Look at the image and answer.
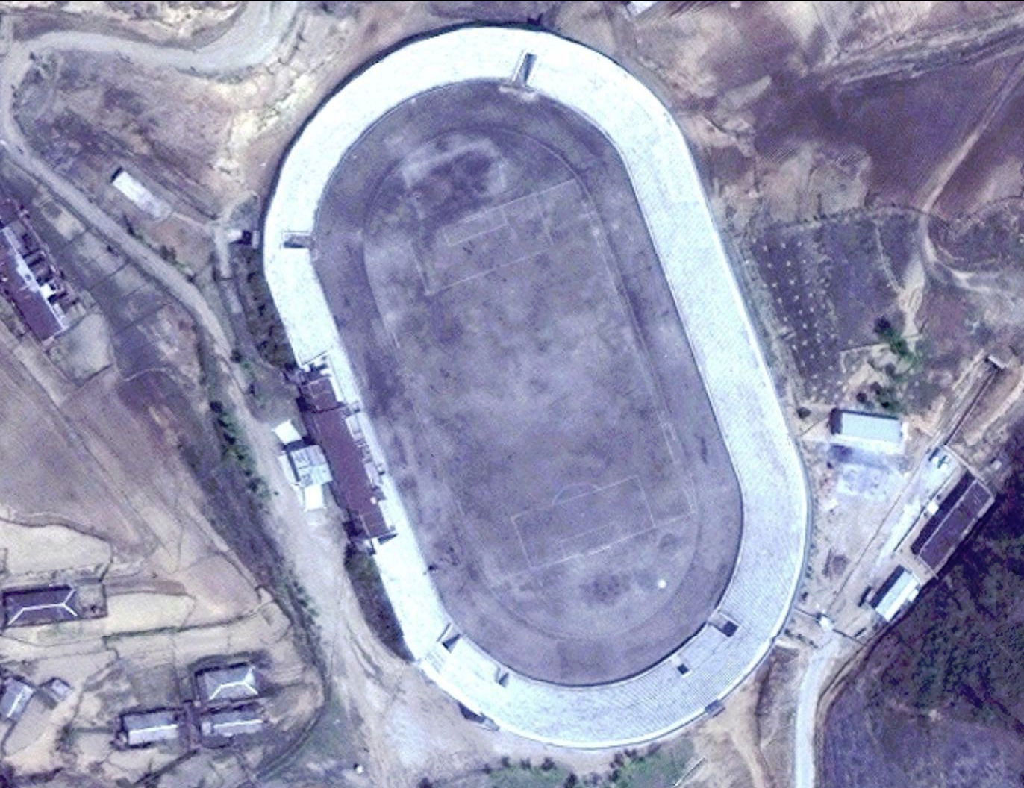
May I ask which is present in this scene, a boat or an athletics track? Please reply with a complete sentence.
Of the two, only an athletics track appears.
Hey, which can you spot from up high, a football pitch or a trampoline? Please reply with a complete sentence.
It is a football pitch that can be seen here.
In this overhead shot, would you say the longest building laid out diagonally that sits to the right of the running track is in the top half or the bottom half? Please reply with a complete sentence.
It is in the bottom half that the longest building laid out diagonally that sits to the right of the running track appears.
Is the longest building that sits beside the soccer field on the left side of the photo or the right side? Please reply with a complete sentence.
You can find the longest building that sits beside the soccer field on the left side of the picture.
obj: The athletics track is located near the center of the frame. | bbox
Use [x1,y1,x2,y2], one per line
[310,79,743,687]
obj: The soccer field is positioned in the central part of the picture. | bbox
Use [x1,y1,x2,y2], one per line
[363,128,699,638]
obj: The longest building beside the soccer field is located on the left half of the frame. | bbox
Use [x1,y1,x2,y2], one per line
[302,363,397,551]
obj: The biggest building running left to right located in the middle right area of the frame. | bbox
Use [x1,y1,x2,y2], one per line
[831,410,907,455]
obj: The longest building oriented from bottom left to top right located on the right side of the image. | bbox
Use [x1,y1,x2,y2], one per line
[919,480,995,572]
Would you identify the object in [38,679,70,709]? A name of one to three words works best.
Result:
shed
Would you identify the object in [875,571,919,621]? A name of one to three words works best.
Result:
building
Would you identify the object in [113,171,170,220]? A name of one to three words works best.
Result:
shed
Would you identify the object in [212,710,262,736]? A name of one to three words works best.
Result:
house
